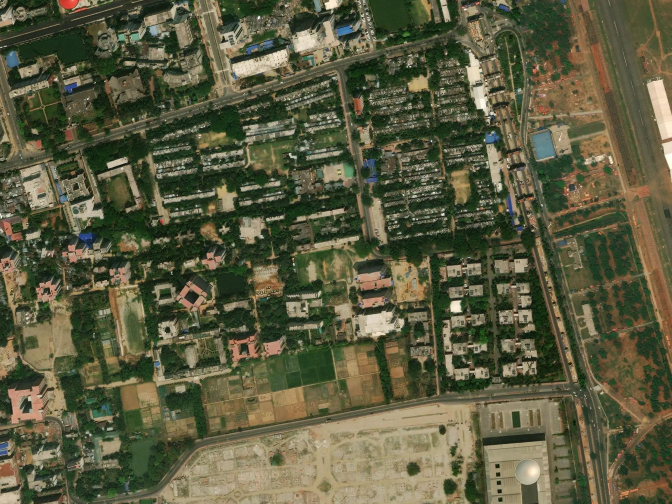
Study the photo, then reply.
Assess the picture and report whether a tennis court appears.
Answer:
No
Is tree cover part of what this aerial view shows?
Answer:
Yes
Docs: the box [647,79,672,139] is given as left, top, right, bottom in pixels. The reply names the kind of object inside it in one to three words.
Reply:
tent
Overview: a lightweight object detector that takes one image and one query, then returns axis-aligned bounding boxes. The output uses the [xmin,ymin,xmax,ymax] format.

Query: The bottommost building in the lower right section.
[483,437,554,504]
